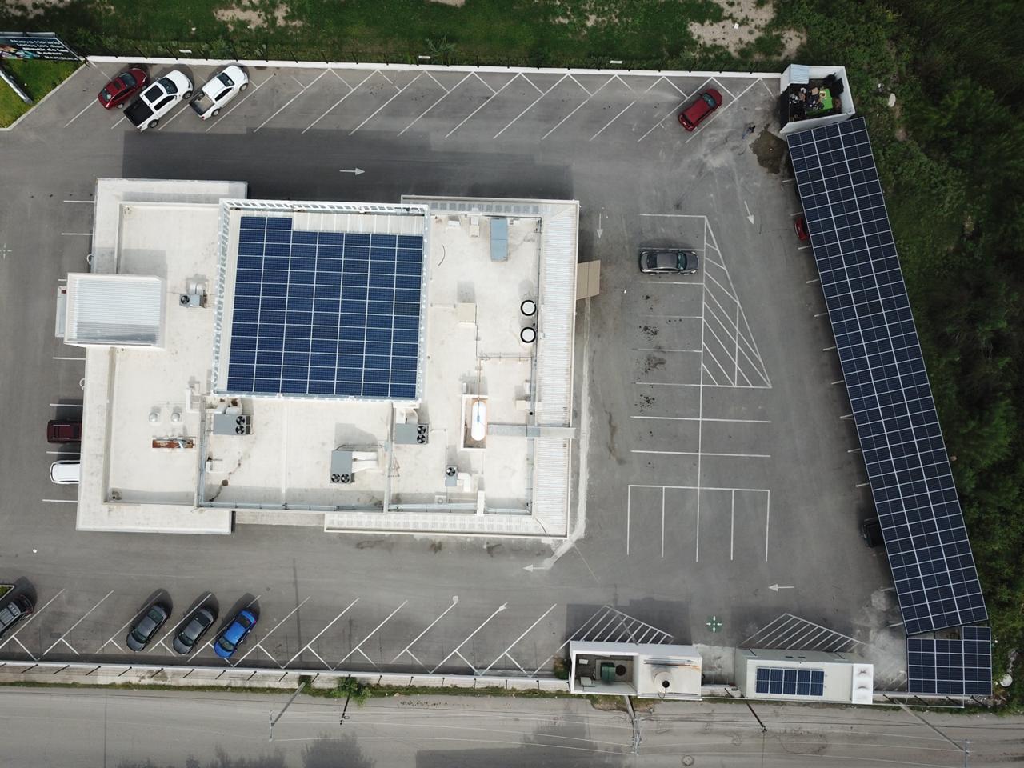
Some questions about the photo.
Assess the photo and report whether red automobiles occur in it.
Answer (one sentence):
Yes, there's a red automobile down there.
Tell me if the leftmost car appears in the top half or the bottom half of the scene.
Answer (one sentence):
Seen from above, the leftmost car lies in the bottom half of the view.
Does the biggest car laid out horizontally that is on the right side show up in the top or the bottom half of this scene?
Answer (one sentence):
You can find the biggest car laid out horizontally that is on the right side in the top half.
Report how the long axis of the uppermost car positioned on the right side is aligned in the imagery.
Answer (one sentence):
The uppermost car positioned on the right side has been laid out at an angle relative to the frame.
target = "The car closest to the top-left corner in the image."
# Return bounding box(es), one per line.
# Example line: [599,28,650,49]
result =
[96,67,151,112]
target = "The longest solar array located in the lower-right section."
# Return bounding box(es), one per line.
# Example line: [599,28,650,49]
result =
[753,668,826,696]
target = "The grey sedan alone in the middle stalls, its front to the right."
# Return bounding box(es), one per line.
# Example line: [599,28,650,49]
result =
[639,246,699,275]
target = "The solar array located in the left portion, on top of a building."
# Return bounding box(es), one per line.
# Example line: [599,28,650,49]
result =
[228,217,423,397]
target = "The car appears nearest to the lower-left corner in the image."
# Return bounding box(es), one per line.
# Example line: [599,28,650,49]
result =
[0,594,38,645]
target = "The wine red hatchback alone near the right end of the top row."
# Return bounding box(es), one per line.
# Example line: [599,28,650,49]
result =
[676,88,724,133]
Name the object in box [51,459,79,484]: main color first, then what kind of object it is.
white car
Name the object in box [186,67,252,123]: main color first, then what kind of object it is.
white truck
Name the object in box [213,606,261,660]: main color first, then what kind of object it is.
blue car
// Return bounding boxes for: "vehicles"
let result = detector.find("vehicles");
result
[174,601,220,654]
[51,459,79,484]
[186,67,252,123]
[0,594,38,645]
[96,67,151,112]
[213,606,261,660]
[639,246,699,275]
[676,88,724,133]
[47,419,81,444]
[127,599,174,652]
[122,71,196,134]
